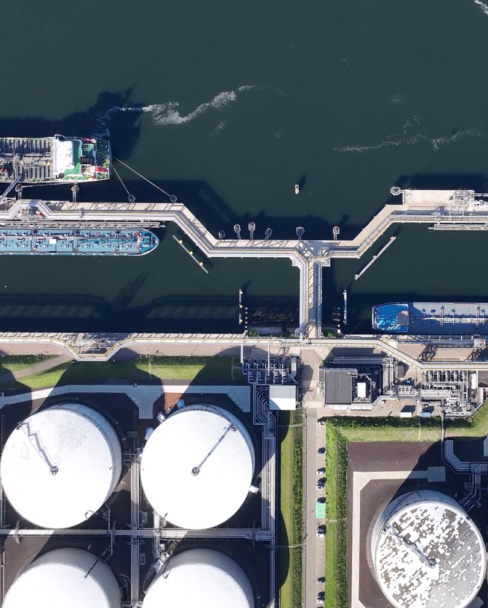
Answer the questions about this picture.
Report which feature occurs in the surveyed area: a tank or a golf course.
tank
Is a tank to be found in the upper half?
No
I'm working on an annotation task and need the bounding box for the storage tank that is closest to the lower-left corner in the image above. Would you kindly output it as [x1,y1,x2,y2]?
[1,545,127,608]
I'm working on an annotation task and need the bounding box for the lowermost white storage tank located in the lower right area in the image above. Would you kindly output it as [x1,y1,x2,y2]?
[369,486,487,608]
